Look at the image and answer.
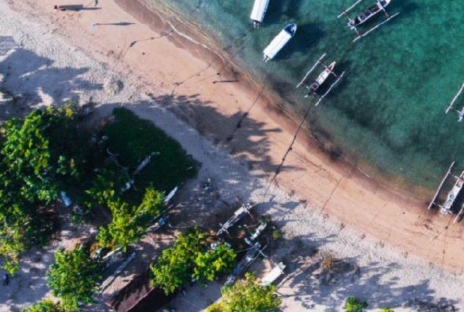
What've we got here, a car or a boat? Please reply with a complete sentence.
There is a boat in the scene.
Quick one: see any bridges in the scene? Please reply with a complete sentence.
No, no bridge is visible in the view.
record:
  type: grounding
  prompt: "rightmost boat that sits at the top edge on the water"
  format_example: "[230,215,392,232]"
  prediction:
[338,0,398,41]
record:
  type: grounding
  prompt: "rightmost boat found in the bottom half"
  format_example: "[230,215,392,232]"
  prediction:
[429,164,464,222]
